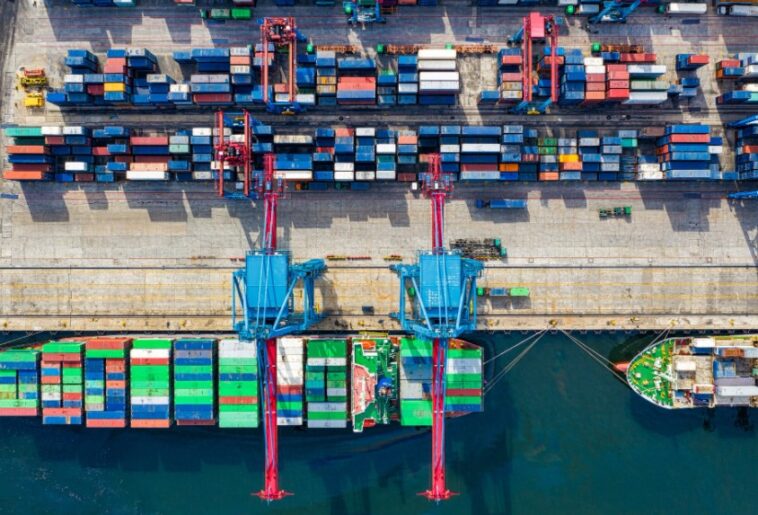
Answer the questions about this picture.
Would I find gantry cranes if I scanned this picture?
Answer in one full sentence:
Yes, the image includes a gantry crane.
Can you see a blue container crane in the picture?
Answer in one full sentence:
Yes, the picture does show a blue container crane.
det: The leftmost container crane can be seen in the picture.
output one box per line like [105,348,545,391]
[217,113,268,204]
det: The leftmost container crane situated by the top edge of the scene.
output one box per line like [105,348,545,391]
[261,18,309,118]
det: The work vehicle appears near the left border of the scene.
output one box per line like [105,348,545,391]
[16,77,44,106]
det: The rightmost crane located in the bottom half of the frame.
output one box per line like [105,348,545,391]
[387,154,488,502]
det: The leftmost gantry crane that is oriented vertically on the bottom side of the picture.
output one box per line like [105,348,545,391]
[227,154,332,502]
